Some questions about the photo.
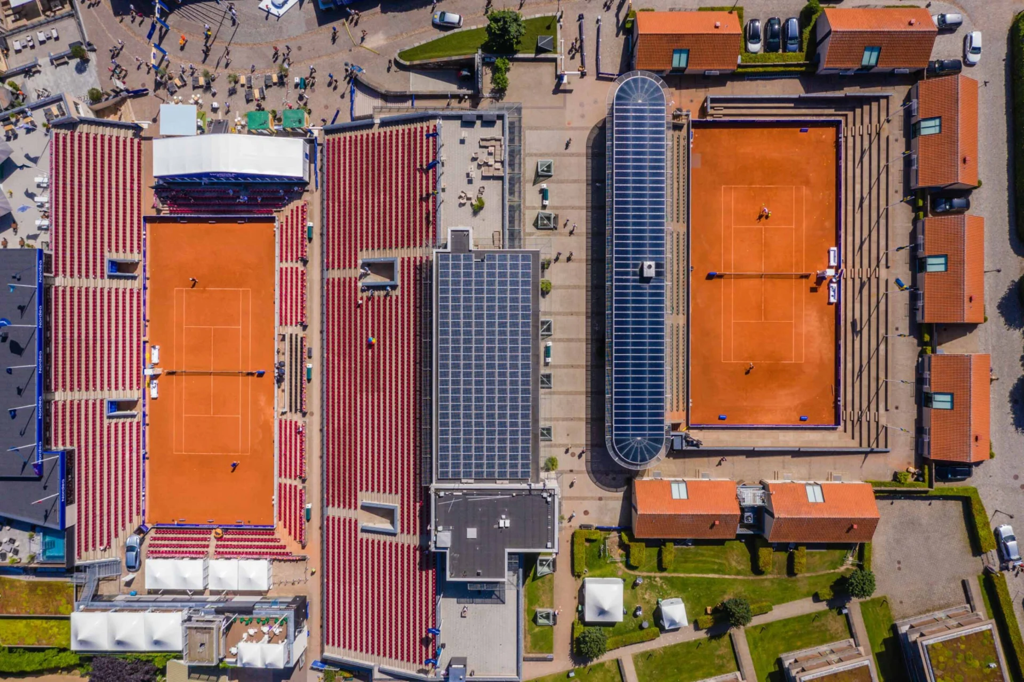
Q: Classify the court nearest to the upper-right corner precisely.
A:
tennis court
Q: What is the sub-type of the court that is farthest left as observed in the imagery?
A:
tennis court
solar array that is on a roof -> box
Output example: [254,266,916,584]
[438,254,531,479]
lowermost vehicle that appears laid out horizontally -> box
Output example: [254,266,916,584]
[934,464,971,481]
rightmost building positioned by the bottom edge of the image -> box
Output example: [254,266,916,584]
[899,602,1008,682]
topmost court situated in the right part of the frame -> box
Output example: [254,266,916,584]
[691,123,838,426]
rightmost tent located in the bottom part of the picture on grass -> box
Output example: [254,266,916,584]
[658,596,688,630]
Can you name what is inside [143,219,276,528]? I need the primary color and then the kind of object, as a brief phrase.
orange tennis court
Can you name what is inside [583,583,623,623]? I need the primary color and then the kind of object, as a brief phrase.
white tent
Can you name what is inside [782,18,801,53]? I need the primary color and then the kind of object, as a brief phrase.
blue car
